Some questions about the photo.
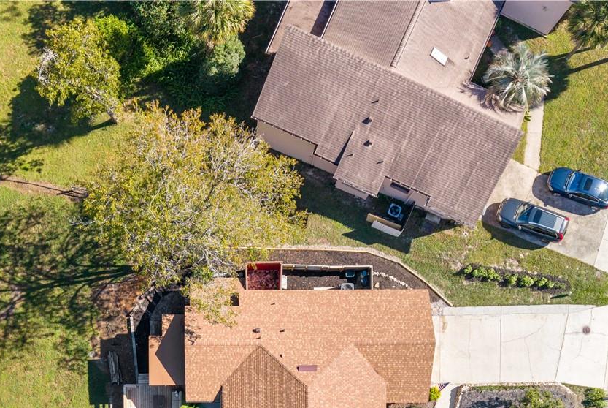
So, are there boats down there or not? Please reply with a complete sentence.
No, no boat can be seen from above.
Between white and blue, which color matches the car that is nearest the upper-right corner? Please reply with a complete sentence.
The color of the car that is nearest the upper-right corner is blue.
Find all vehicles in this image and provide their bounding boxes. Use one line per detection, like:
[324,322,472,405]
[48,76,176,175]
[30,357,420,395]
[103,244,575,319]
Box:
[498,200,579,245]
[548,167,608,214]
